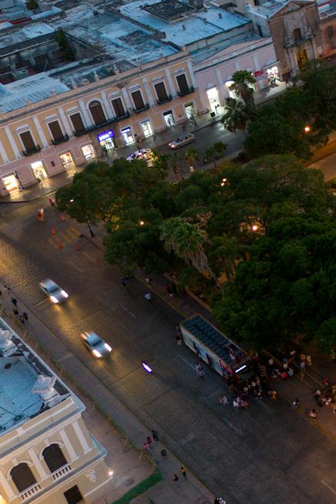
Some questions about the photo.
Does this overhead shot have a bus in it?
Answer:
Yes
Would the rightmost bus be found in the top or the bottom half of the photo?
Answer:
bottom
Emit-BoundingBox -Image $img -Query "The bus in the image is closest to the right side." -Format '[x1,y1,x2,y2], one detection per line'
[184,317,257,389]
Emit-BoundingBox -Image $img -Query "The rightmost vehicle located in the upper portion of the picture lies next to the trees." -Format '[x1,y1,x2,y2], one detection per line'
[166,130,197,148]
